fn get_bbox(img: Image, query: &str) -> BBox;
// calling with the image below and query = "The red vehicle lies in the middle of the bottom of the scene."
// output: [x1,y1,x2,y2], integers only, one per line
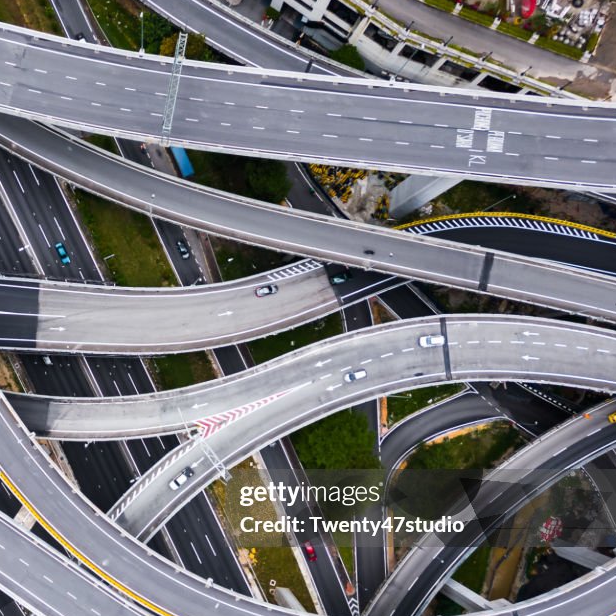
[304,543,318,565]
